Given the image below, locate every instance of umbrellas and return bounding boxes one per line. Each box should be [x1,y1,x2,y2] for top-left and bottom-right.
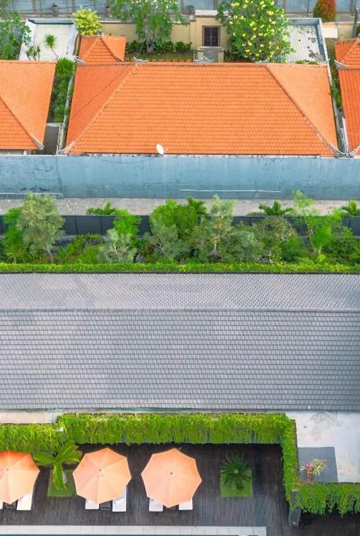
[0,447,41,506]
[71,447,133,506]
[140,447,202,506]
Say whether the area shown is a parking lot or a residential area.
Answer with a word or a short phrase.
residential area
